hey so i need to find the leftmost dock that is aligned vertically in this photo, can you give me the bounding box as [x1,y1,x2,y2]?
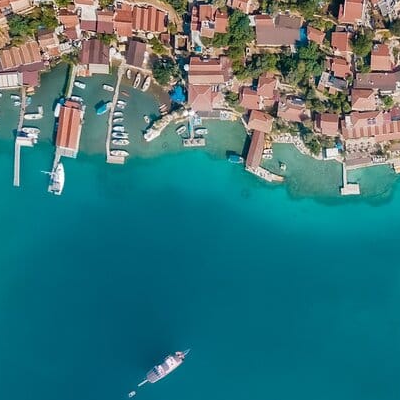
[14,86,34,186]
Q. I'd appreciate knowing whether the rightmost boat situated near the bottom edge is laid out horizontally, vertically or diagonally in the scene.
diagonally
